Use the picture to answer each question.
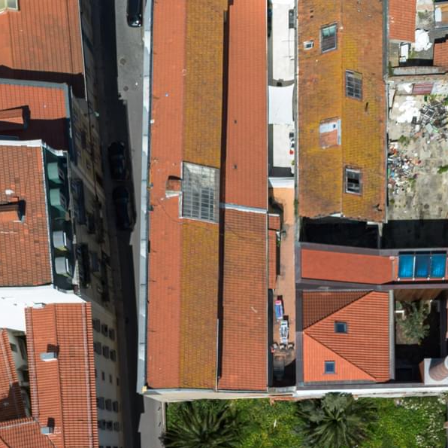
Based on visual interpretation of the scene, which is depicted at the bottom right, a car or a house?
house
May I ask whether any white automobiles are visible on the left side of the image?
No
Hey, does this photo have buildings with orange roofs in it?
Yes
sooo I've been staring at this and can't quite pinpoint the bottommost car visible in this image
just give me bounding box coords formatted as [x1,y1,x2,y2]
[109,185,134,233]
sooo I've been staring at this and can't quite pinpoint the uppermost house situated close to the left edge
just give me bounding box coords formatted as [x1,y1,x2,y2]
[0,0,112,139]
